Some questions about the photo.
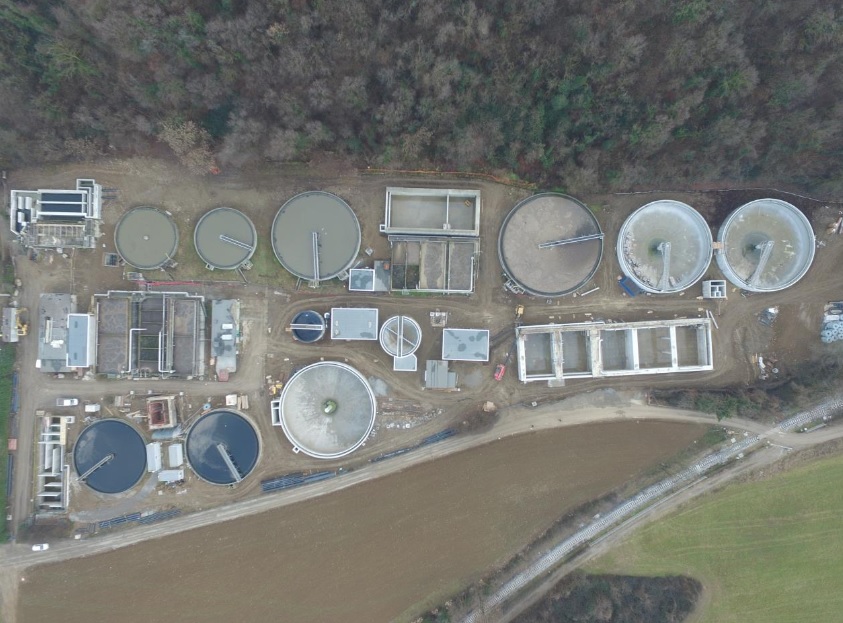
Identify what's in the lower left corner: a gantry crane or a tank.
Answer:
tank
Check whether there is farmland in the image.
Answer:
Yes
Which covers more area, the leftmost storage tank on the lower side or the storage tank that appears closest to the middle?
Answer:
the leftmost storage tank on the lower side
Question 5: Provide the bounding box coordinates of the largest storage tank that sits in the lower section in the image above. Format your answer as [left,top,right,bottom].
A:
[272,360,376,458]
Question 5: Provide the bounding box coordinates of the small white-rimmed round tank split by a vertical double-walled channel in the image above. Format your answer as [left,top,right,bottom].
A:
[380,315,422,357]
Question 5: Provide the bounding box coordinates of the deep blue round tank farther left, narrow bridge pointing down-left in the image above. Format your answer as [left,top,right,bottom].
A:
[72,416,148,494]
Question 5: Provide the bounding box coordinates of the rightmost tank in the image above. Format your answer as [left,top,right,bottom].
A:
[715,198,816,293]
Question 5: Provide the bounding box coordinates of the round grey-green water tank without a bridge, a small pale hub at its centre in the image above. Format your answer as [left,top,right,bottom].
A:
[114,206,179,281]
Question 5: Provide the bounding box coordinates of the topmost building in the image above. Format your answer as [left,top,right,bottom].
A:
[349,269,375,291]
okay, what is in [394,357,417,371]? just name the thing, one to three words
building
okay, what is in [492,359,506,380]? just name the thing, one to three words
vehicle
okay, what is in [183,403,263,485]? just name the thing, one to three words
storage tank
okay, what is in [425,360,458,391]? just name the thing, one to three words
shed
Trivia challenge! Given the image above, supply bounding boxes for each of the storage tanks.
[286,309,326,343]
[72,416,148,494]
[194,207,258,283]
[614,198,712,294]
[272,360,376,458]
[380,315,422,357]
[497,192,605,297]
[183,403,263,485]
[272,191,361,291]
[715,198,816,293]
[114,206,179,281]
